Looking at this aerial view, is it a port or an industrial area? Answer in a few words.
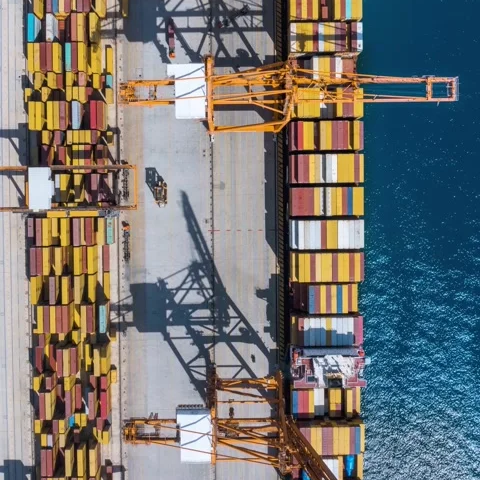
port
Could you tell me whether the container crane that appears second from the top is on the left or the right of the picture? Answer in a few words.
left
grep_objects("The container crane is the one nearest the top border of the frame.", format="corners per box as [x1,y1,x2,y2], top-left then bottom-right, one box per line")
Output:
[118,57,459,136]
